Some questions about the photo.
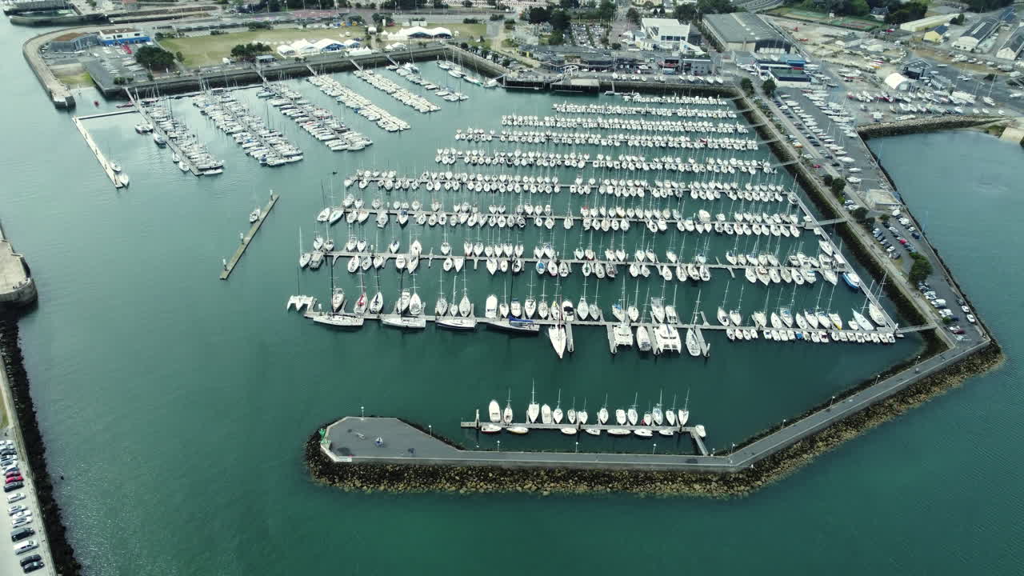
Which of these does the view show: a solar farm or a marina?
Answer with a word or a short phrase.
marina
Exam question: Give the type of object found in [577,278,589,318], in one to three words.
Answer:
boat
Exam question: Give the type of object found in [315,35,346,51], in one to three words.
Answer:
tent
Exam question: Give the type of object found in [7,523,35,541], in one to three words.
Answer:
vehicle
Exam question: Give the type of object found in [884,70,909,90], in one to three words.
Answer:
building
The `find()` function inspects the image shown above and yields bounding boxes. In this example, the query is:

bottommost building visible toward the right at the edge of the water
[865,189,903,211]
